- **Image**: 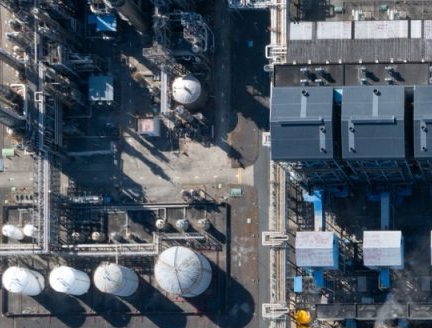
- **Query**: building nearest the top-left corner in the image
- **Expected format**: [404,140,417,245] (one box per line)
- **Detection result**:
[88,15,131,44]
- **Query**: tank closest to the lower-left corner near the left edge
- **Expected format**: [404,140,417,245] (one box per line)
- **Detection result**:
[0,267,44,297]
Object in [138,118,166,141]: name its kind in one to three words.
building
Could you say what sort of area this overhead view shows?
industrial area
